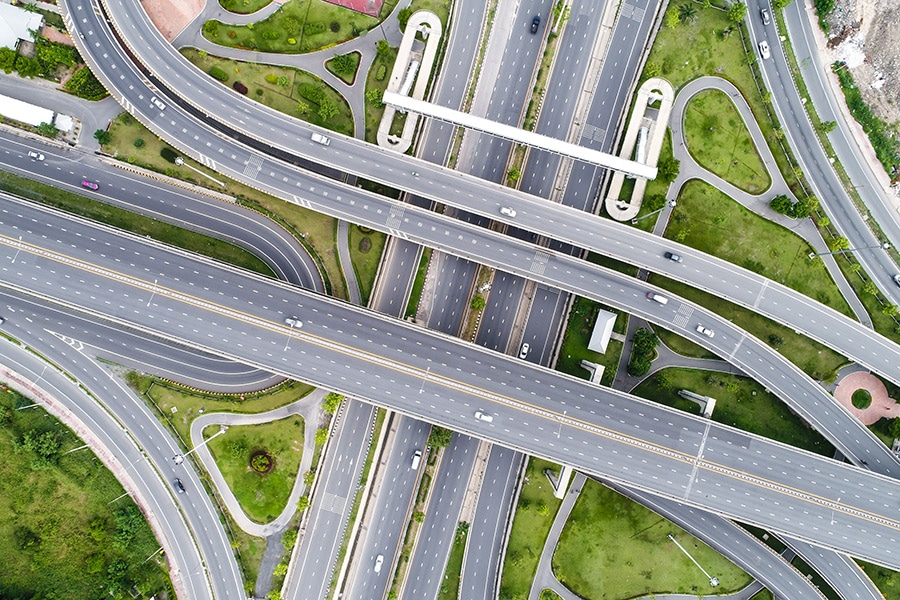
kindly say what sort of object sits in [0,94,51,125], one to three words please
shed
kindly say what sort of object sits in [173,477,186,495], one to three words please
vehicle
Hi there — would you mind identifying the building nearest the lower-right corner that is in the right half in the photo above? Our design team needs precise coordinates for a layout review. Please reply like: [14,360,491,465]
[593,309,624,353]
